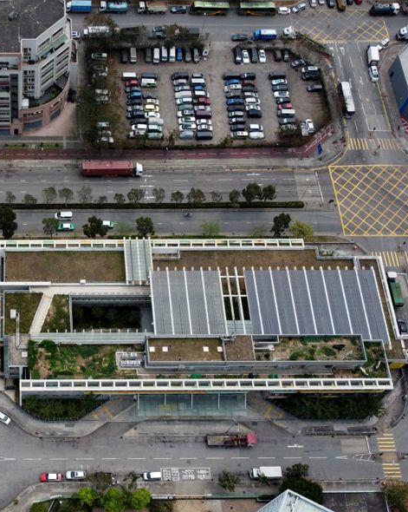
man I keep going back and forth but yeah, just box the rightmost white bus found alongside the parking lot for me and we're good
[336,79,360,116]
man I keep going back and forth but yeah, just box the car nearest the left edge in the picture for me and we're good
[0,411,12,425]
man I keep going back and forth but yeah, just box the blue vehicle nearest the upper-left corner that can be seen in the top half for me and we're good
[66,0,91,13]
